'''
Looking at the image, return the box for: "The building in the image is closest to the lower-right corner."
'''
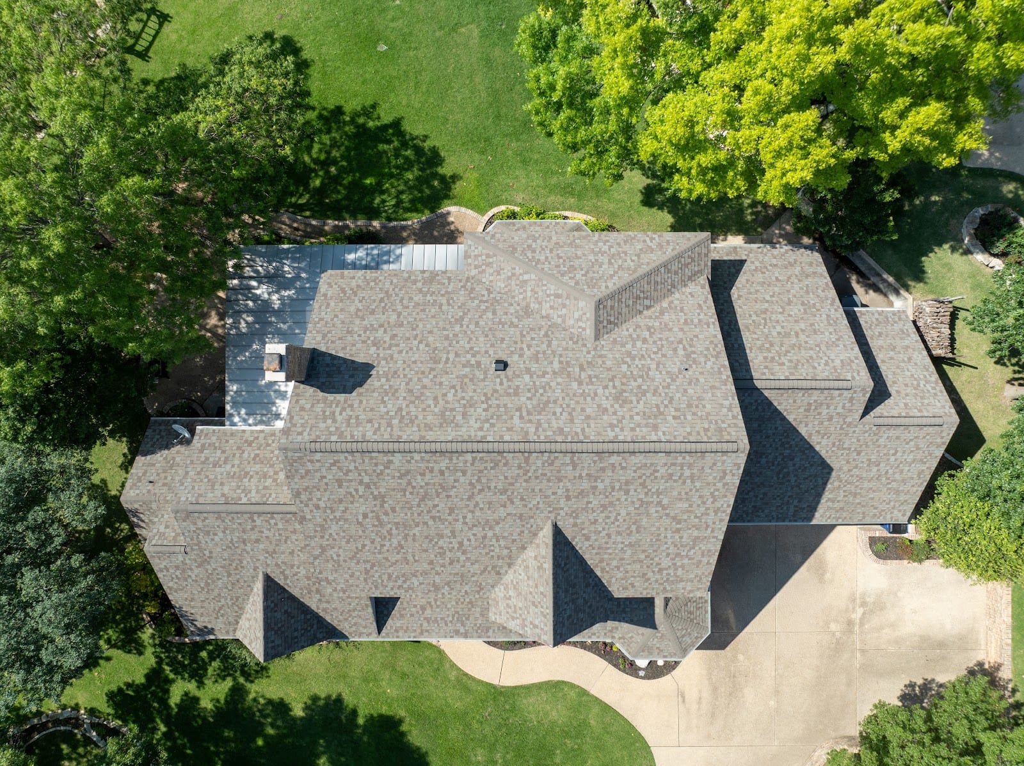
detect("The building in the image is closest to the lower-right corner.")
[121,219,958,663]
